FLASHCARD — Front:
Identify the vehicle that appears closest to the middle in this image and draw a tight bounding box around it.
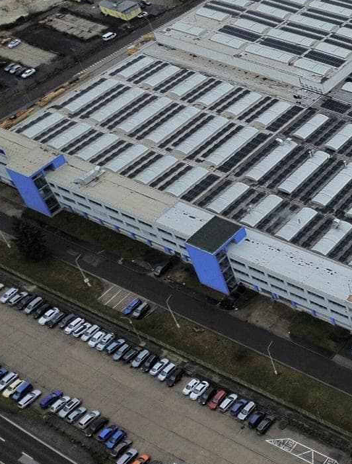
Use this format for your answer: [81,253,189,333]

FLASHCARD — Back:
[153,259,170,276]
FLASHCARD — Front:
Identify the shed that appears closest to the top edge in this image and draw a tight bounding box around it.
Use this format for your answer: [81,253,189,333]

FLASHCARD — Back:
[96,0,138,21]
